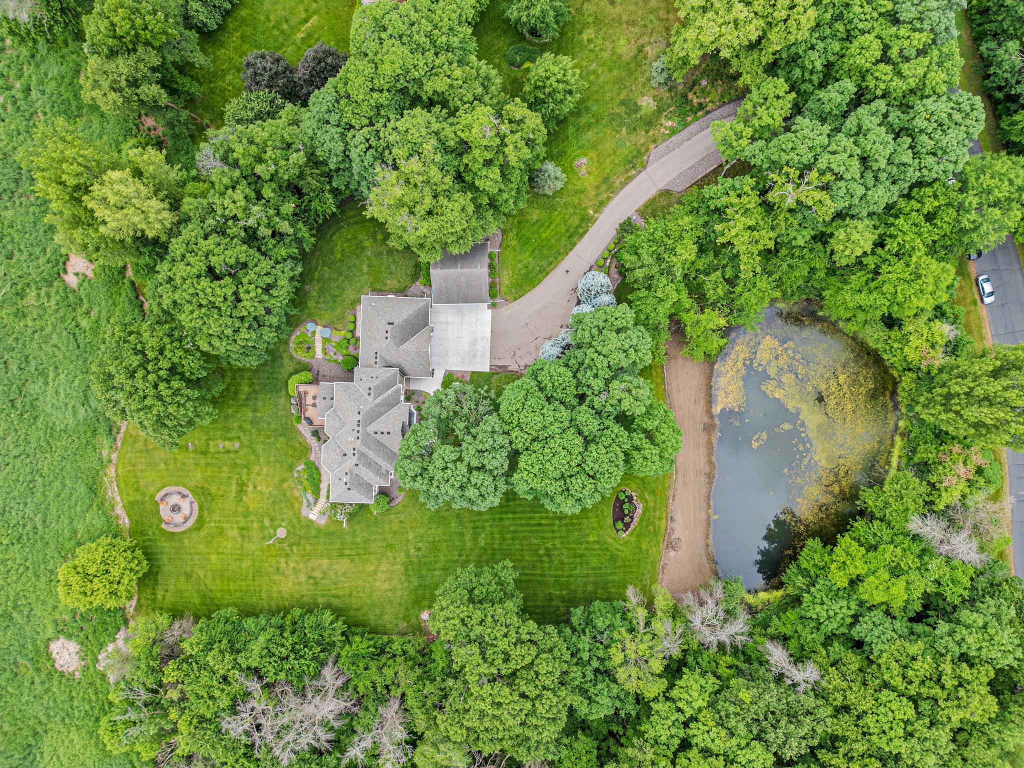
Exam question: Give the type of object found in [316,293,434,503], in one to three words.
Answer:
house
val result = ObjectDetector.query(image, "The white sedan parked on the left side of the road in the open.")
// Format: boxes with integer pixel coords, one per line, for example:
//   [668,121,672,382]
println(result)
[976,274,996,305]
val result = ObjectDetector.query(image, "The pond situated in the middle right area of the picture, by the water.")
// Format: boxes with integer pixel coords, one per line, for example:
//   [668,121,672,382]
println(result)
[710,300,900,591]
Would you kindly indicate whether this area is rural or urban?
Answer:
rural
